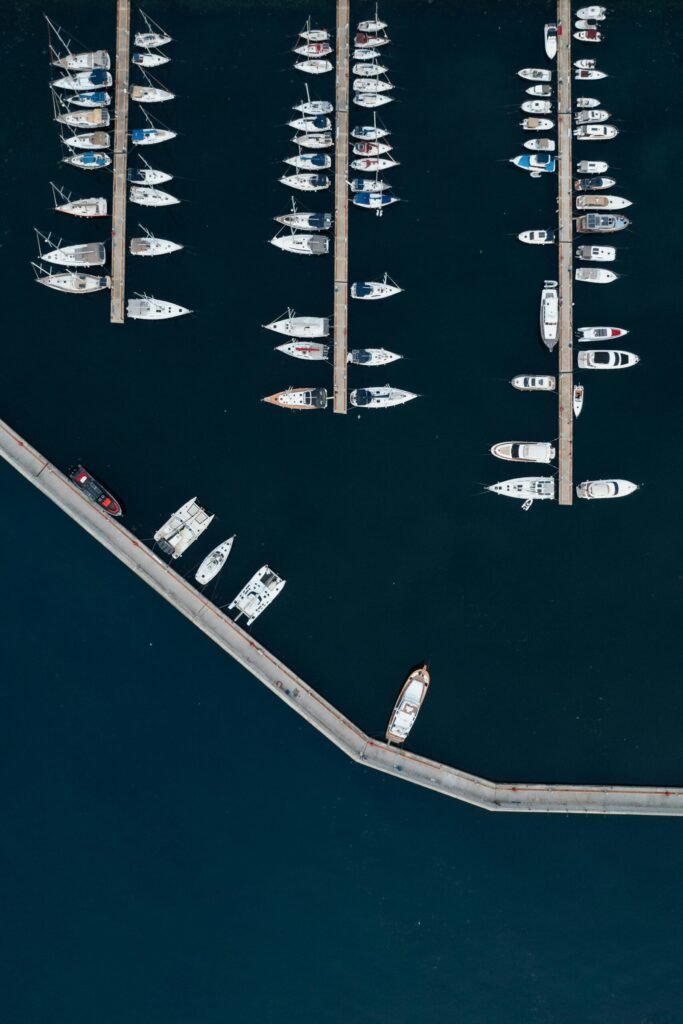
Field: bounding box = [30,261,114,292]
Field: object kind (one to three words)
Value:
boat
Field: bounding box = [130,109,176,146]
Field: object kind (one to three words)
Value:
boat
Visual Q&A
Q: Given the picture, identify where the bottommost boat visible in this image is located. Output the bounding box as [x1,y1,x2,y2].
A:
[384,655,429,753]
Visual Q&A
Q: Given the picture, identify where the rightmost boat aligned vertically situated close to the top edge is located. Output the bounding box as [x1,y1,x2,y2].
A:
[543,25,558,60]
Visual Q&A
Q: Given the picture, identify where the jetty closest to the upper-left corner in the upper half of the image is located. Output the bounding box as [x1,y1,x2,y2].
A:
[111,0,131,324]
